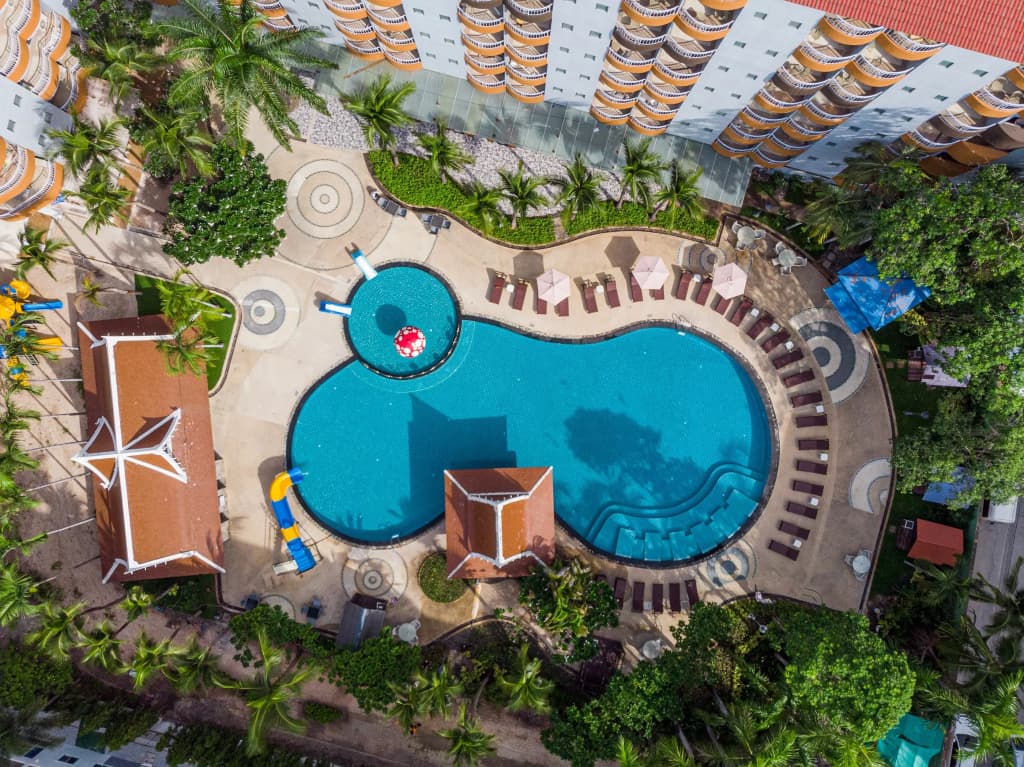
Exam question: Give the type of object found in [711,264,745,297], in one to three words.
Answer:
umbrella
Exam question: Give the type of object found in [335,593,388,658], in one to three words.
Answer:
shed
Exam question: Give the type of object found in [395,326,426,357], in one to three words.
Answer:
fountain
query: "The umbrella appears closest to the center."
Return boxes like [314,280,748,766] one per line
[537,270,569,305]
